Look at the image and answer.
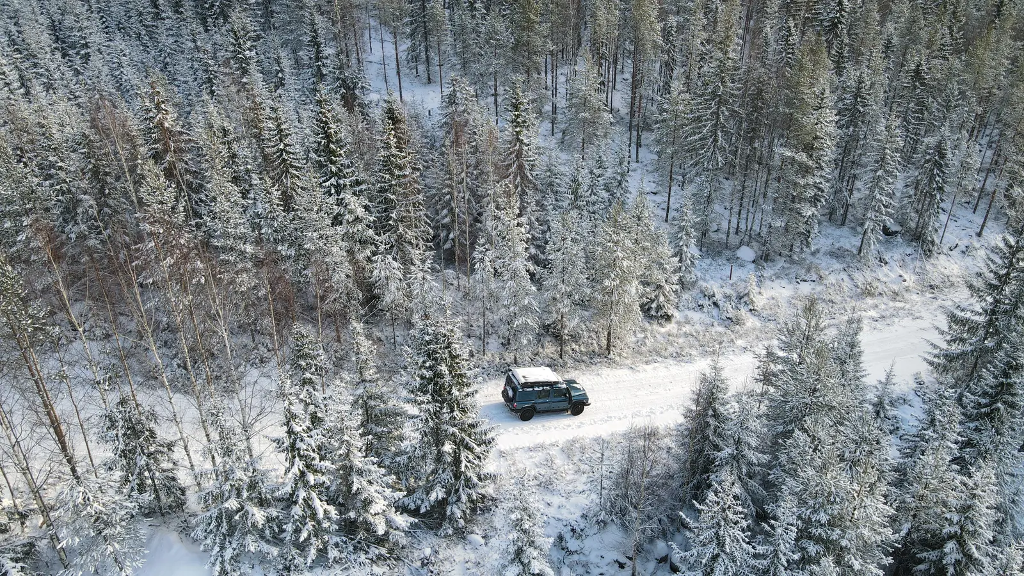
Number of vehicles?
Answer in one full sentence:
Altogether the scene contains 1 vehicle.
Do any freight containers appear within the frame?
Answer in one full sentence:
No, this view has no freight container in it.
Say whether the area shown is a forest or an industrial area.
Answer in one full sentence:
It's a forest.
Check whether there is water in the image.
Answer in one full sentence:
No, no water is visible.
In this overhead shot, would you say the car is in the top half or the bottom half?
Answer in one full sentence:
The car sits in the bottom half of the picture.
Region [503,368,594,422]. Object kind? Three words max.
car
